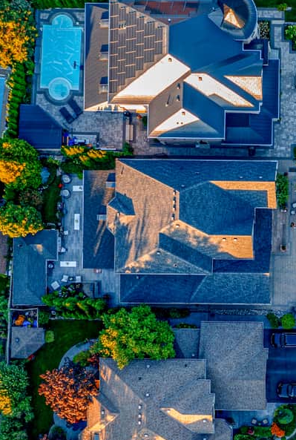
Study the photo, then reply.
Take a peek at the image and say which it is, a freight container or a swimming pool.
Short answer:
swimming pool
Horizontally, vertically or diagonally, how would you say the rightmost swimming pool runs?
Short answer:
vertically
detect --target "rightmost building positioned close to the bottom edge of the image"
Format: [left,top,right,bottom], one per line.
[78,320,267,440]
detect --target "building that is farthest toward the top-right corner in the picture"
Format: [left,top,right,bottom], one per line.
[82,0,281,146]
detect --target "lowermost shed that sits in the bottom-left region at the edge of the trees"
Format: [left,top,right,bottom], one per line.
[9,326,48,360]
